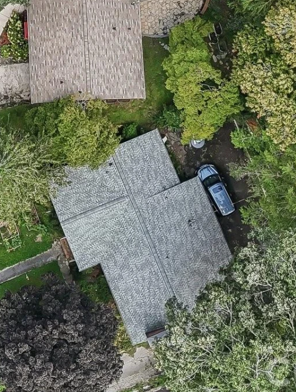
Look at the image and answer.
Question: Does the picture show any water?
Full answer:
No, water can't be seen anywhere here.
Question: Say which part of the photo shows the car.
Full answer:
The car is located in the right region of the scene.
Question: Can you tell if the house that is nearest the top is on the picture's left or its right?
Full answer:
The house that is nearest the top sits on the left side.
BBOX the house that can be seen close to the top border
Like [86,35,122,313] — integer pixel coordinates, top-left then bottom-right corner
[27,0,146,105]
